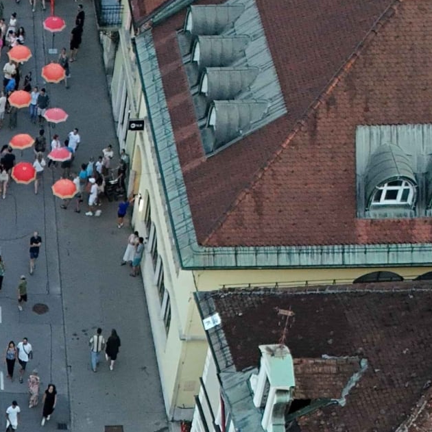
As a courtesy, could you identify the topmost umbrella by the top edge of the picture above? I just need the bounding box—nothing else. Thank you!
[43,16,65,36]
